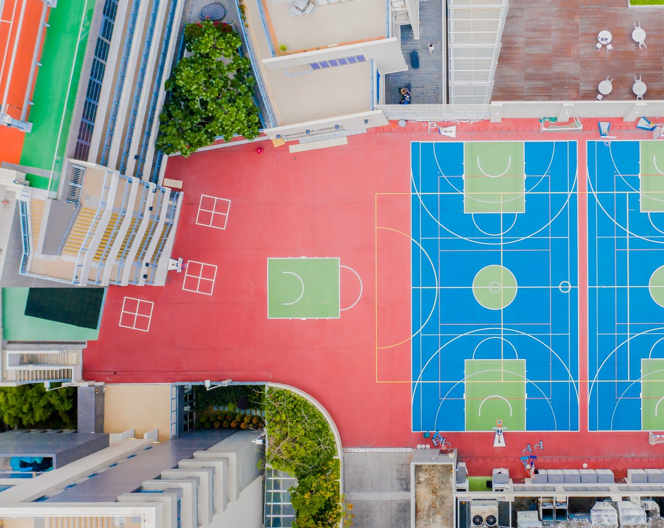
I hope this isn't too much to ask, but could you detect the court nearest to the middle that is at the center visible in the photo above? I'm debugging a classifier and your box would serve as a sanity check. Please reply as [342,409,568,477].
[267,256,363,320]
